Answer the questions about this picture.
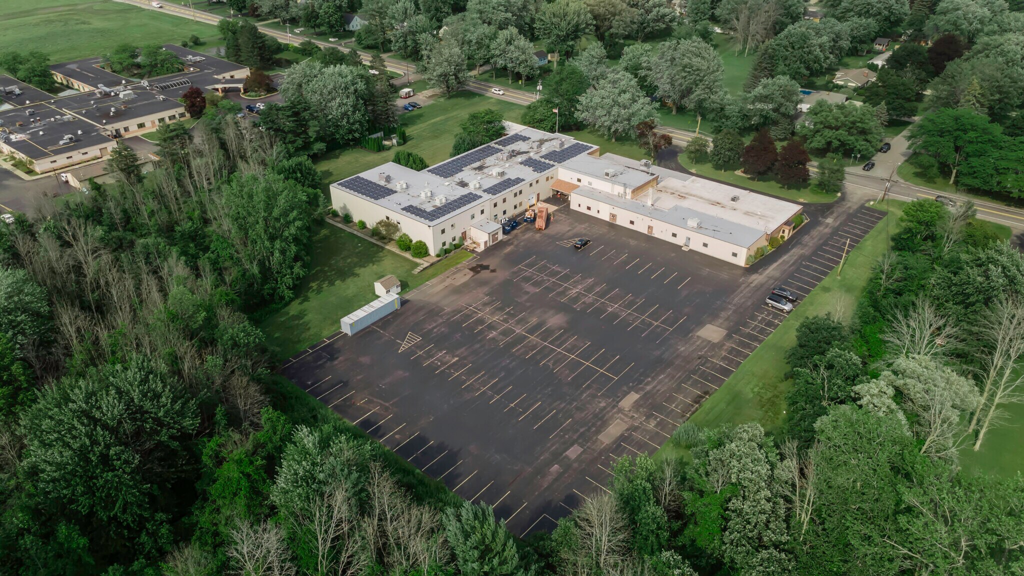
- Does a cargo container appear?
Yes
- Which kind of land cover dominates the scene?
trees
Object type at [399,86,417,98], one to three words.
vehicle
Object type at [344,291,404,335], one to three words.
shipping container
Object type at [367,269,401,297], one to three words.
shed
